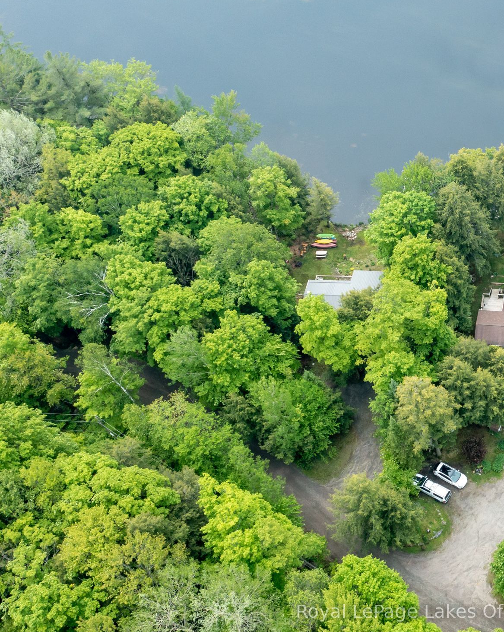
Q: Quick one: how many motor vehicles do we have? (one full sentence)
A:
My tally gives 2 motor vehicles in this view.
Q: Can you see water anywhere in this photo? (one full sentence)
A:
Yes, there's water in this view.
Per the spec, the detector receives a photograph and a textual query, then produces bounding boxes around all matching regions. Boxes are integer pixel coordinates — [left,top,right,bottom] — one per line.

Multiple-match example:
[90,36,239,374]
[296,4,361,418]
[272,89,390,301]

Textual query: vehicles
[431,462,469,491]
[410,471,454,504]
